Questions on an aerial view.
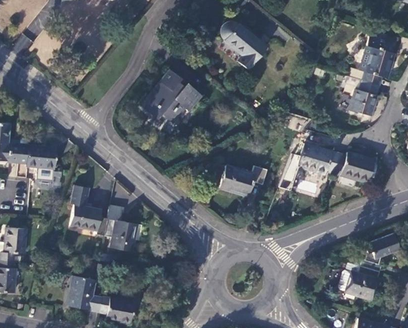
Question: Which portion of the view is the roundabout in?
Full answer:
You can find the roundabout in the bottom area of the picture.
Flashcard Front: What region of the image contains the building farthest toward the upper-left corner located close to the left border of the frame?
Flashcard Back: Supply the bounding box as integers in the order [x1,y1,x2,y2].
[0,121,58,180]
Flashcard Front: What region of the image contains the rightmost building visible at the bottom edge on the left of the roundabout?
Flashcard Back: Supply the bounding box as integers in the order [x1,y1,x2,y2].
[107,294,138,325]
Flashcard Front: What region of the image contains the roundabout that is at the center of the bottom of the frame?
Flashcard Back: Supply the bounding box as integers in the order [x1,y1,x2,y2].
[202,238,289,323]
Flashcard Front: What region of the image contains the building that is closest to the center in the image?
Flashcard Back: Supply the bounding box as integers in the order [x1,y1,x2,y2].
[219,164,268,197]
